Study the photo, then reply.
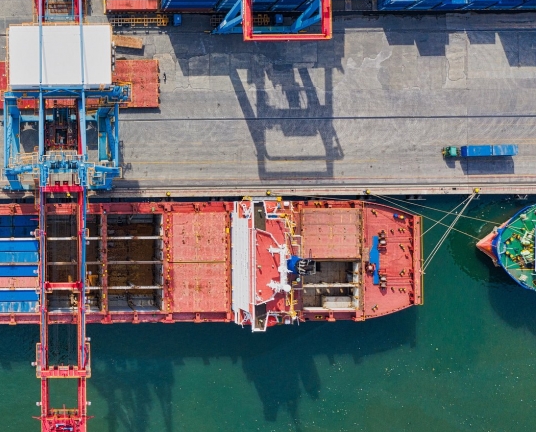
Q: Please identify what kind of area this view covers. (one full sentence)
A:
It's a port.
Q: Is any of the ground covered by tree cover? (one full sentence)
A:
No, no tree cover is visible.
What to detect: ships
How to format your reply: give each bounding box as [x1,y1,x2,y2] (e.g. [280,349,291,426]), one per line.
[0,193,424,328]
[478,205,536,288]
